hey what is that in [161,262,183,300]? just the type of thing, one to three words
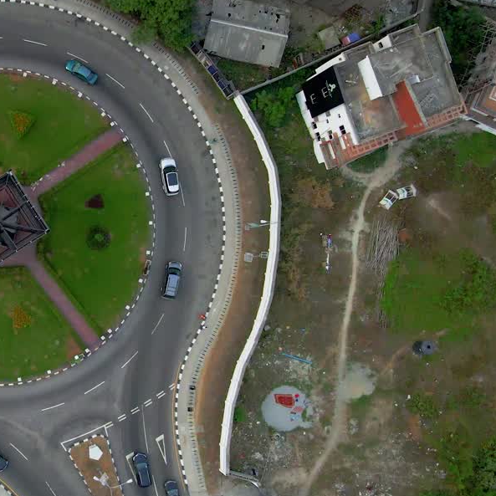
car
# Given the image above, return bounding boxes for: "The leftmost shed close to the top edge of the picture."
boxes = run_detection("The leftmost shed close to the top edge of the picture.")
[199,0,290,72]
